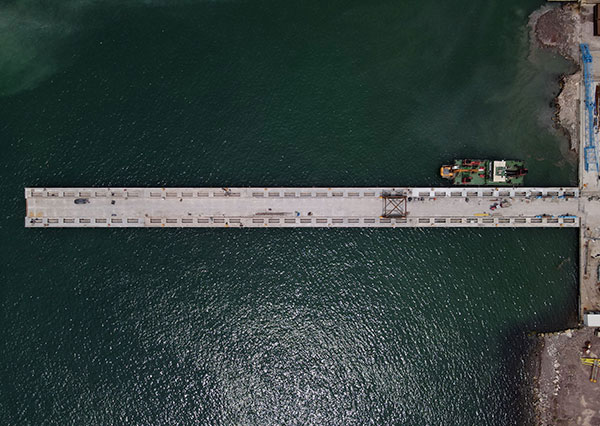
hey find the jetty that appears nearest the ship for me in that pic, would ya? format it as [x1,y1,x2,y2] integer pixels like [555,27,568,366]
[25,188,579,227]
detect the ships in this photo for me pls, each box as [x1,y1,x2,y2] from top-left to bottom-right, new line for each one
[439,159,527,186]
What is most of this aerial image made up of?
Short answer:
water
